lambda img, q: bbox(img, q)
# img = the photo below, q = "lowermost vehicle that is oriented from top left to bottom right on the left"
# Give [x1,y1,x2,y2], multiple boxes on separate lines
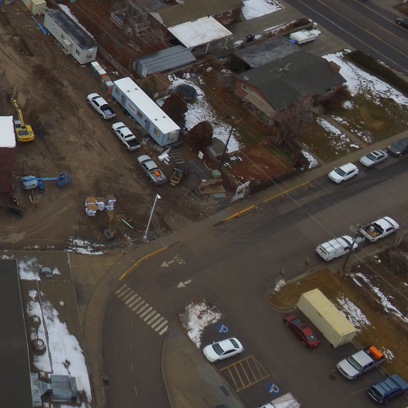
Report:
[136,155,170,188]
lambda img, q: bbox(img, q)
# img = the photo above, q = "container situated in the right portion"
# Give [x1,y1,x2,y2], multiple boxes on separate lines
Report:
[296,289,357,351]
